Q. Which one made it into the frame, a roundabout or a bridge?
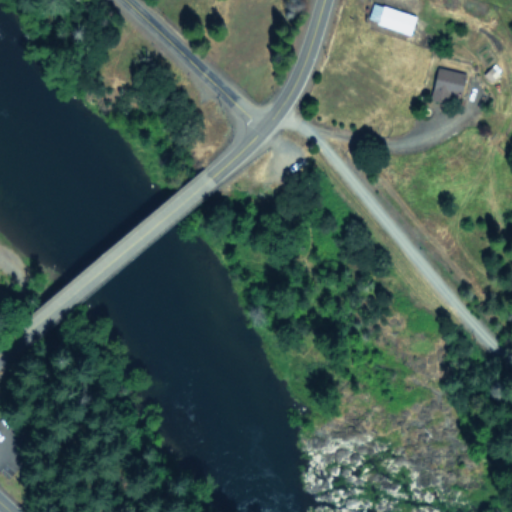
bridge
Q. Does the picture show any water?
Yes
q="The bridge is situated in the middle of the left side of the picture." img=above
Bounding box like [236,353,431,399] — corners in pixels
[28,171,218,336]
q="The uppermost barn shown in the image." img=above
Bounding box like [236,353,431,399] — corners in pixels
[370,2,418,36]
